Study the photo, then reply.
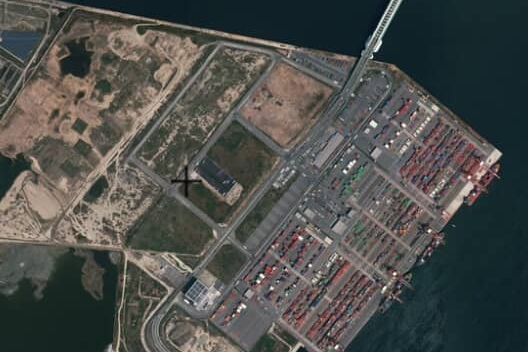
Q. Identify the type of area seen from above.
port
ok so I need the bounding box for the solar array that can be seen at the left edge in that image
[1,31,40,59]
